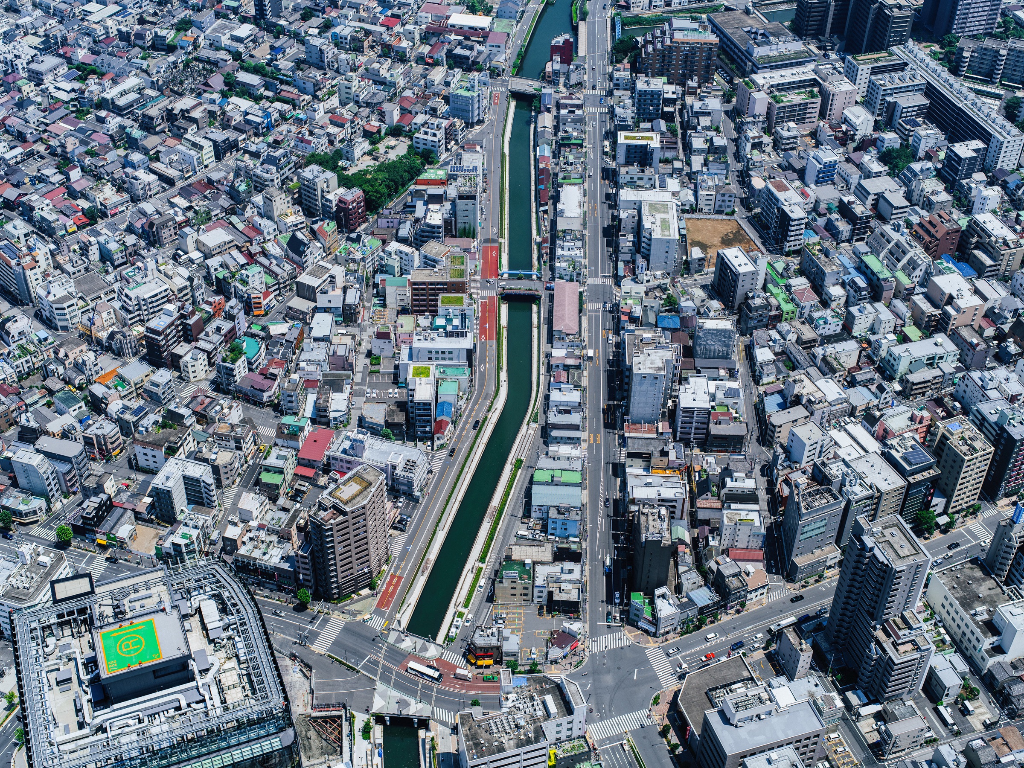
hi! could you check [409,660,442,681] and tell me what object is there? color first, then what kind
white bus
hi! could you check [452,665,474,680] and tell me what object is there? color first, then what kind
white vehicle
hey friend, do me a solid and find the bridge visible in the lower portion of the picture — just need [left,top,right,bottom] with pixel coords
[372,624,461,726]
